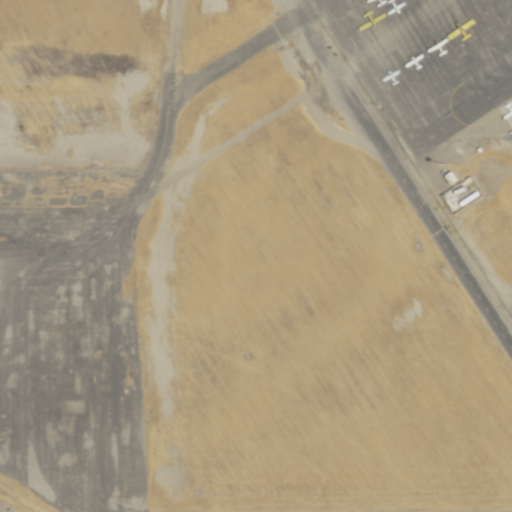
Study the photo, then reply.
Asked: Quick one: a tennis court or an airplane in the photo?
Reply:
airplane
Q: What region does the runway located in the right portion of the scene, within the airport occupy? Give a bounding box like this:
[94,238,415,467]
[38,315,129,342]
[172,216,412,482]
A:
[333,72,512,360]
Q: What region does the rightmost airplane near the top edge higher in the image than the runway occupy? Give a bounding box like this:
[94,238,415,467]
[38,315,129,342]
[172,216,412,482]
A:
[447,19,476,41]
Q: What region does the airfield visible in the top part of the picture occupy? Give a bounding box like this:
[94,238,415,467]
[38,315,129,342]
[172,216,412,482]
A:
[170,0,512,360]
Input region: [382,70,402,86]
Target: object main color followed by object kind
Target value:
white airplane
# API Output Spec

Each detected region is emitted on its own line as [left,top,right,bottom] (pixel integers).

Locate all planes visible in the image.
[502,102,512,118]
[388,0,407,16]
[447,19,476,41]
[382,70,402,86]
[404,54,424,70]
[359,10,387,30]
[428,38,449,57]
